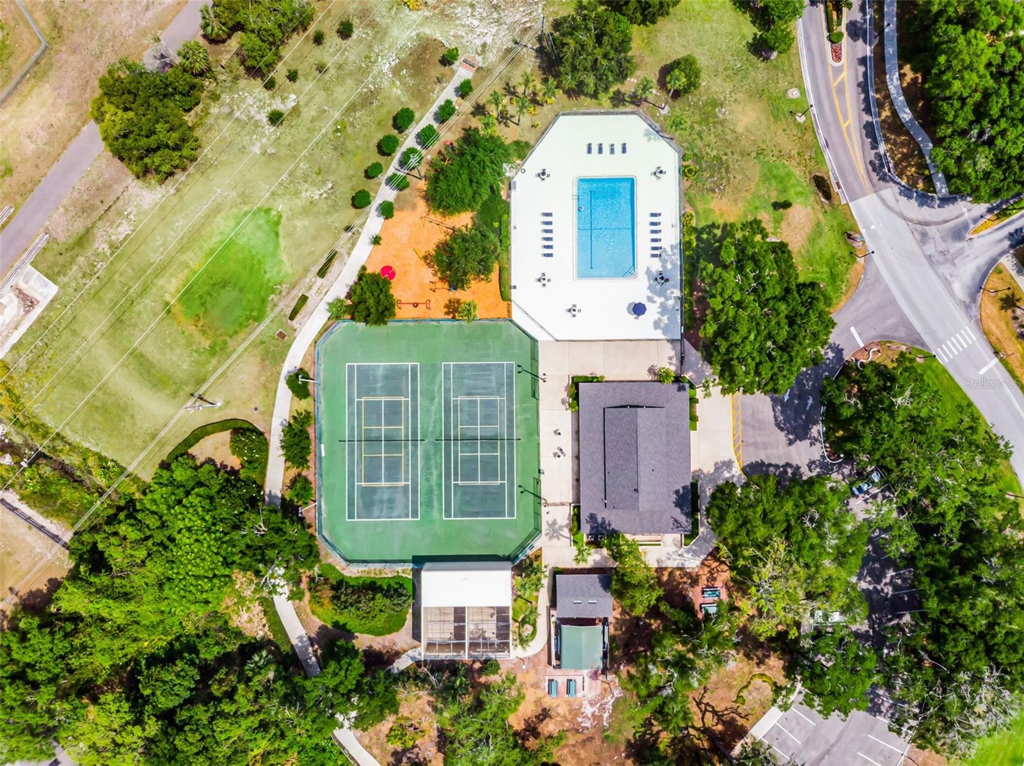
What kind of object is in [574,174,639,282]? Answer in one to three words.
swimming pool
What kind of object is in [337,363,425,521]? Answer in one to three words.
tennis court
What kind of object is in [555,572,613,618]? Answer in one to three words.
building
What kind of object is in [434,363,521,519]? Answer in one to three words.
tennis court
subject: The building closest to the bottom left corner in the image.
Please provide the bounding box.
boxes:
[420,559,511,660]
